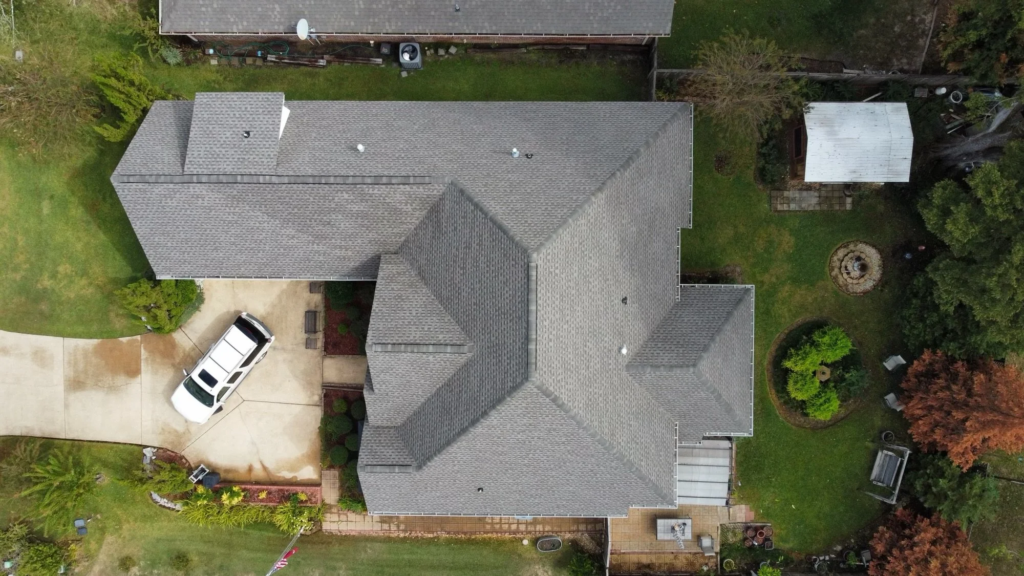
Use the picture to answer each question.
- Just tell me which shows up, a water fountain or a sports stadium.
water fountain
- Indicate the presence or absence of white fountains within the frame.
No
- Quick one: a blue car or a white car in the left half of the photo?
white car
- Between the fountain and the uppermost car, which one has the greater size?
the car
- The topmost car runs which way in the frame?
at an angle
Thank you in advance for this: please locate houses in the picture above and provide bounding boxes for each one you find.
[154,0,672,47]
[111,92,755,516]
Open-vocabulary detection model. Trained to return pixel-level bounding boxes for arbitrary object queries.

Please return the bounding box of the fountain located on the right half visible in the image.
[830,241,884,295]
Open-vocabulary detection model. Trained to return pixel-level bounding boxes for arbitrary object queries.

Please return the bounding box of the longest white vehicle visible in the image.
[173,310,279,425]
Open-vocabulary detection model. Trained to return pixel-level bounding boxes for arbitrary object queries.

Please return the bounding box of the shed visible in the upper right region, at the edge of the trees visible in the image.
[791,102,914,183]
